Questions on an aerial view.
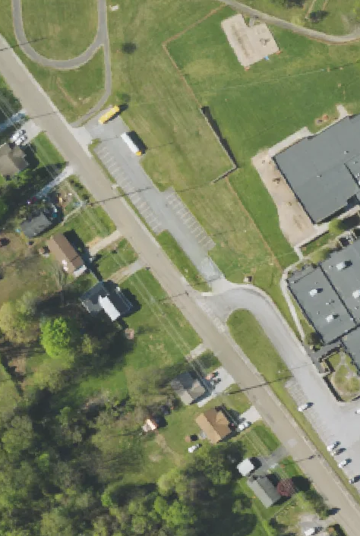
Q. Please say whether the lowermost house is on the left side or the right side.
right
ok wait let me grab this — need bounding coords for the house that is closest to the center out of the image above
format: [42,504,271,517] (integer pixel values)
[84,280,128,325]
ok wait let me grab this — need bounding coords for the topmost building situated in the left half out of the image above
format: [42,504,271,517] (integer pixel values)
[0,140,29,180]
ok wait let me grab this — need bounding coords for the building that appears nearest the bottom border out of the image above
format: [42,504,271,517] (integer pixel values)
[246,472,282,510]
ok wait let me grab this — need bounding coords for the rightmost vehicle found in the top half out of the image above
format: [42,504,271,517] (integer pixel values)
[122,133,138,155]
